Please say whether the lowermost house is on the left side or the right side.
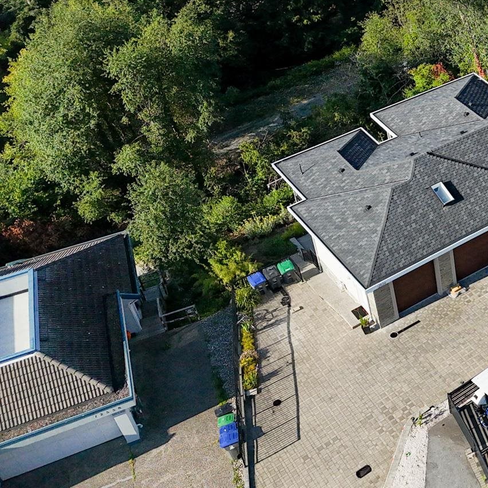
left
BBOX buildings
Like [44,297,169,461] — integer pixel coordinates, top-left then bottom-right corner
[0,239,157,488]
[269,71,488,329]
